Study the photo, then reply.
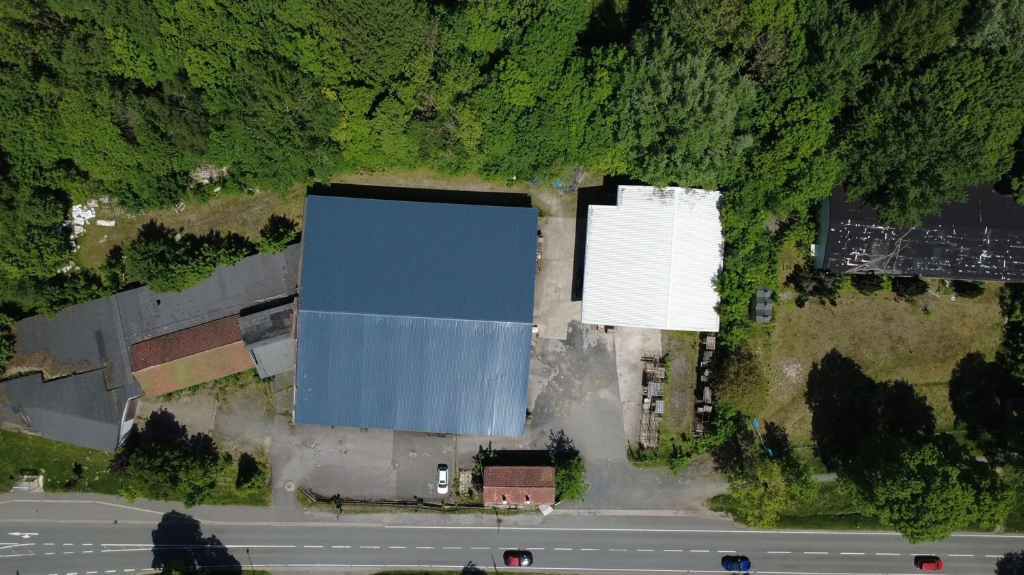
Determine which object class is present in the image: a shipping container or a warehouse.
warehouse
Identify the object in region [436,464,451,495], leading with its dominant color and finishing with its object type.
white car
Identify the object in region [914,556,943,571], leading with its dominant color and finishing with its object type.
red car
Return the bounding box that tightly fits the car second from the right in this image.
[721,556,750,572]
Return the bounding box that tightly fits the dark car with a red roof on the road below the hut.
[503,552,533,568]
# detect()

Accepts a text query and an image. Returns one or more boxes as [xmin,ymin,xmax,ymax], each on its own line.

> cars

[503,552,533,568]
[914,556,943,571]
[721,556,750,572]
[436,464,451,495]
